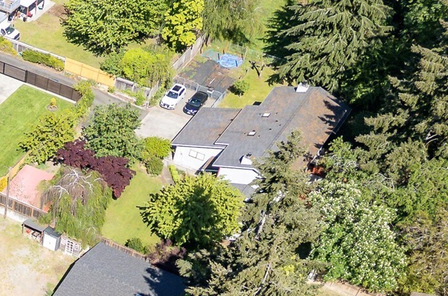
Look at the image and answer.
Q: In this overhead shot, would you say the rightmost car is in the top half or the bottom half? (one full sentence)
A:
The rightmost car is in the top half of the image.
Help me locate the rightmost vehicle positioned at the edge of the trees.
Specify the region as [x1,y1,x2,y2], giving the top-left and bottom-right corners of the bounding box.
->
[181,85,215,117]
